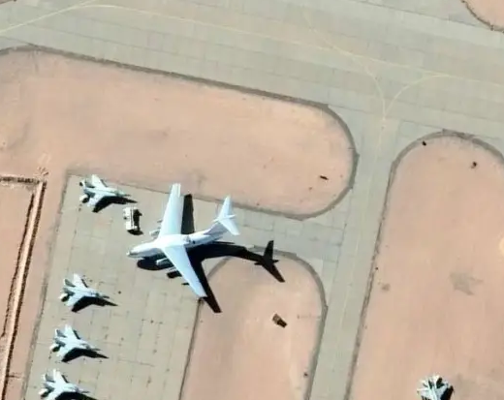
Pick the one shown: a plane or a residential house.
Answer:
plane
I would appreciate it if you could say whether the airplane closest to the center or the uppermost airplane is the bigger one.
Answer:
the airplane closest to the center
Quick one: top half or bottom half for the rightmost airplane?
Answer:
bottom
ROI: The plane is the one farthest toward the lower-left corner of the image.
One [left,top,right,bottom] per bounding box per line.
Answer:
[40,367,87,400]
